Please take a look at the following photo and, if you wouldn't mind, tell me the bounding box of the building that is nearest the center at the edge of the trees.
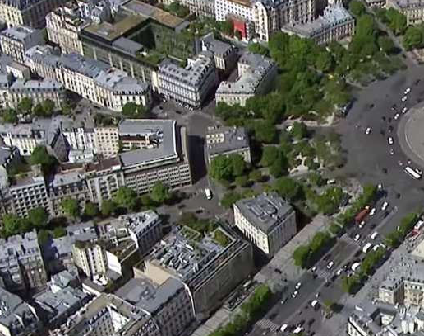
[205,125,252,178]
